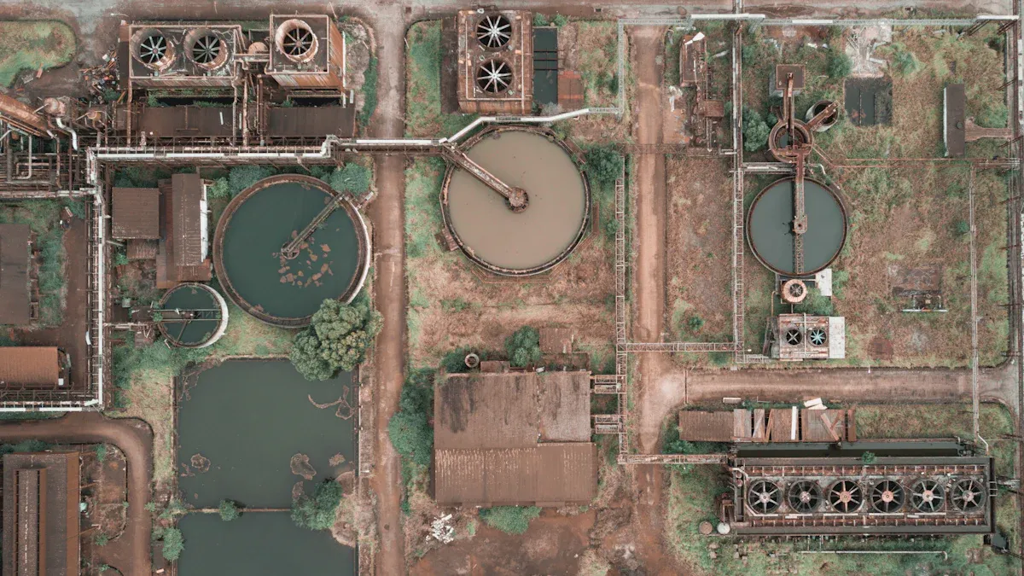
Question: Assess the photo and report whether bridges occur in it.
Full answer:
Yes, the frame does contain a bridge.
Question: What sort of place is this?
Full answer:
What you see here is an industrial area.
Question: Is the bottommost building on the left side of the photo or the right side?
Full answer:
It is on the left.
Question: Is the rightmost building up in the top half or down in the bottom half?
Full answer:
Seen from above, the rightmost building lies in the top half of the view.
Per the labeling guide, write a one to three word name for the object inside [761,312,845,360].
cooling tower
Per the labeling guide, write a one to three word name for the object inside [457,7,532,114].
cooling tower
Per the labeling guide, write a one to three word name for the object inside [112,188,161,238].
building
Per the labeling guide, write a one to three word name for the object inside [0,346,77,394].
shed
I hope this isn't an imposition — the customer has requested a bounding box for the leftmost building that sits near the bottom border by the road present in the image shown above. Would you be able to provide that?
[3,451,85,576]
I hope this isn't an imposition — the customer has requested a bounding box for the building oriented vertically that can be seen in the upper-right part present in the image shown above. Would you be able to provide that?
[945,84,965,155]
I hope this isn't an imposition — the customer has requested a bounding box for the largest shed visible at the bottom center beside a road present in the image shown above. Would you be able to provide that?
[434,371,597,507]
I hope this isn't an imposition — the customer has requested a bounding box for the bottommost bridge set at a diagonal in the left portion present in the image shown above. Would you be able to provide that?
[285,194,343,256]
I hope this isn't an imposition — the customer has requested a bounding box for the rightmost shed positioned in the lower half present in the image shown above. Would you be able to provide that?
[677,410,734,441]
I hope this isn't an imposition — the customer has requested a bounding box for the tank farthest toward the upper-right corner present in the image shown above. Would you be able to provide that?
[801,98,842,135]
